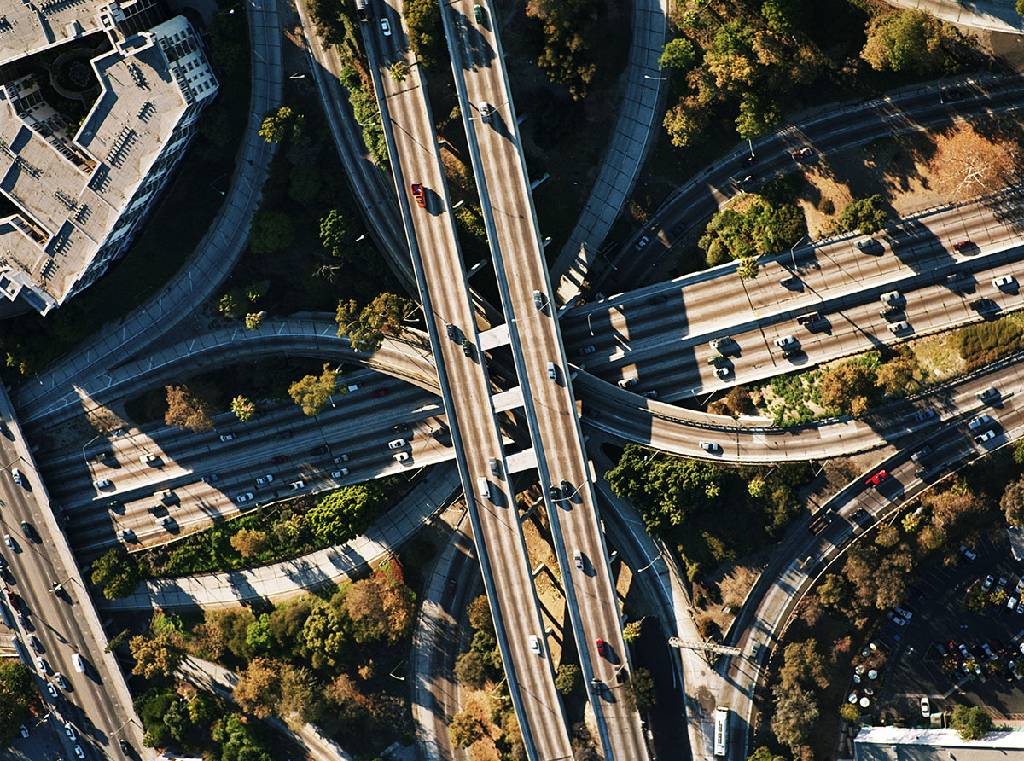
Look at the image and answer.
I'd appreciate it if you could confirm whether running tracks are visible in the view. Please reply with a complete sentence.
No, the scene contains no running track.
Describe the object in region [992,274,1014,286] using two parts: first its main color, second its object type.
white vehicle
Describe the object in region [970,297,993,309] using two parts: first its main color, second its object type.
black vehicle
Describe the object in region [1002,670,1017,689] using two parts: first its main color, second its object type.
black car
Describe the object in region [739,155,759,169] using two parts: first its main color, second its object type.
black car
